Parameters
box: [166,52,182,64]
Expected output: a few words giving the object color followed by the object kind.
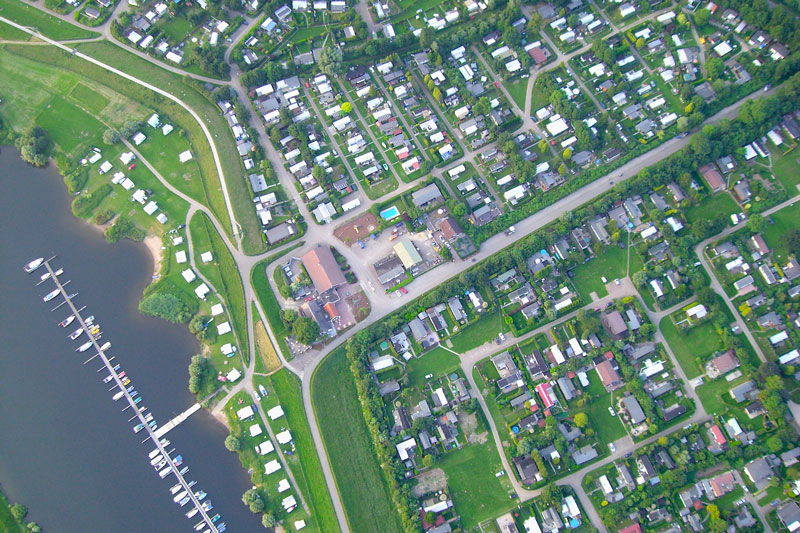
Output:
white vehicle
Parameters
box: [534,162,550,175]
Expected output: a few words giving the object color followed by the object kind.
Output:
white vehicle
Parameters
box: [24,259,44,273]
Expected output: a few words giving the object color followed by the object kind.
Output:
white boat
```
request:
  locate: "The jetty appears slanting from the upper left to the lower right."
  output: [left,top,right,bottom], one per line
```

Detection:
[35,256,219,533]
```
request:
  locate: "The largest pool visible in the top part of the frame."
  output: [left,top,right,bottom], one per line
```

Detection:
[380,205,401,220]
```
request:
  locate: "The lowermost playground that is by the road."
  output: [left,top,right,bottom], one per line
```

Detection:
[346,289,370,321]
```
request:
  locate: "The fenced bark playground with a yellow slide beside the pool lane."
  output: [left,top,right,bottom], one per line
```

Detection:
[334,211,380,245]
